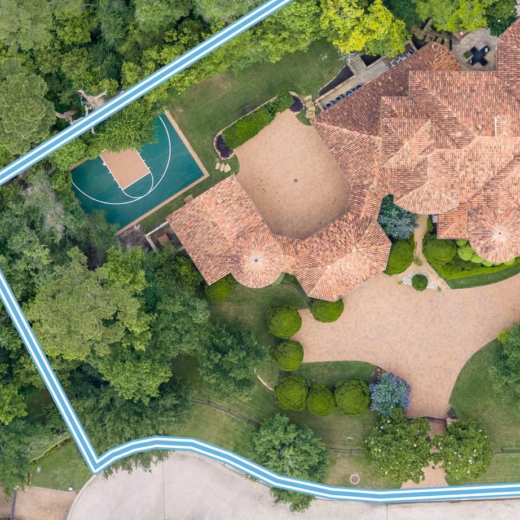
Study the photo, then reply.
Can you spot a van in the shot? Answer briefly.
No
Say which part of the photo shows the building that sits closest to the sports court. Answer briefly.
center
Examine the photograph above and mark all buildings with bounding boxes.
[311,16,520,264]
[165,173,287,289]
